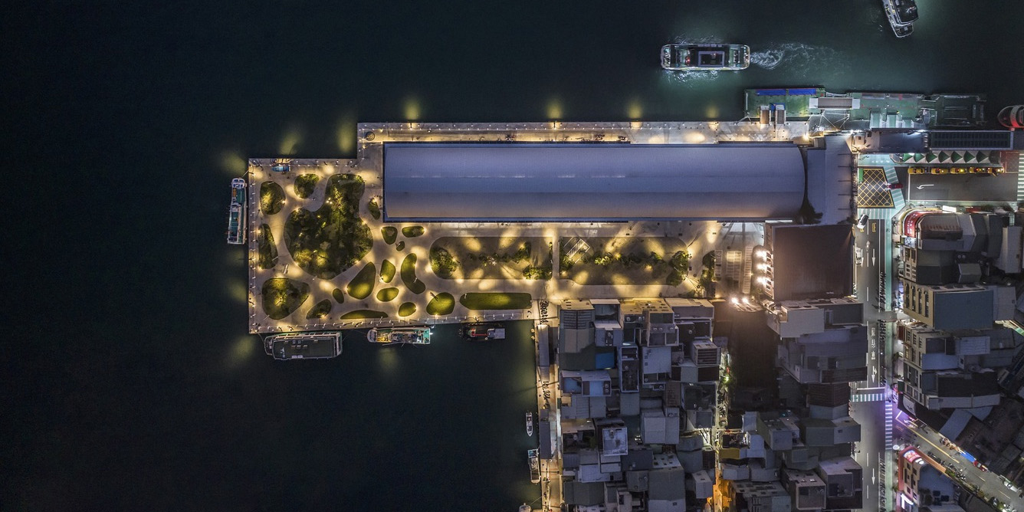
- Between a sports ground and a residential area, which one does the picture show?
residential area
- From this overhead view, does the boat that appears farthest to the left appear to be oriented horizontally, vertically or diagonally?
vertically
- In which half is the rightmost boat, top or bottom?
top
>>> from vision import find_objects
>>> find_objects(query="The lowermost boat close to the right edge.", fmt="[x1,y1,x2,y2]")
[994,104,1024,131]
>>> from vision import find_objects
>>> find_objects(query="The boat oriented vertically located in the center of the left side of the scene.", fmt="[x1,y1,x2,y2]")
[226,178,248,245]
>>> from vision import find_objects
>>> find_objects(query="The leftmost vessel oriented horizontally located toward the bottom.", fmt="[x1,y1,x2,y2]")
[264,331,343,360]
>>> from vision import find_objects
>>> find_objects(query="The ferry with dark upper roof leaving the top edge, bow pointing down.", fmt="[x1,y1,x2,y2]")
[877,0,918,37]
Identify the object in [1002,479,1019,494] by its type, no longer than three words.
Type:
vehicle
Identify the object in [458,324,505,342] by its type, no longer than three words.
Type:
boat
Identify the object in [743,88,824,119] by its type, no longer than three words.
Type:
pier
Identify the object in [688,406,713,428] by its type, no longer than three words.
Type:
house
